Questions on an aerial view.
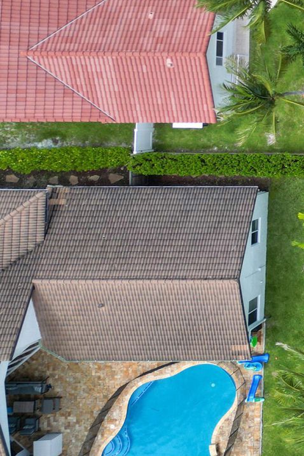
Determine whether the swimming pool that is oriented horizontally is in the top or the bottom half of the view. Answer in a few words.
bottom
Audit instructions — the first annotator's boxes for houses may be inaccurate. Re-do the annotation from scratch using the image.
[0,0,236,129]
[0,182,268,456]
